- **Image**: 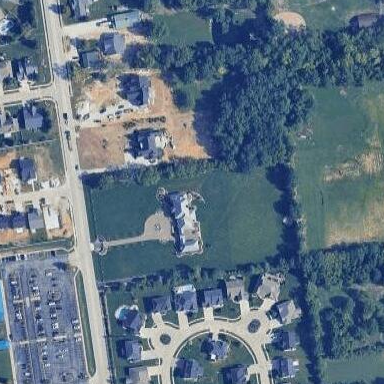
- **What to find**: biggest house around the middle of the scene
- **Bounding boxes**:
[168,192,207,258]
